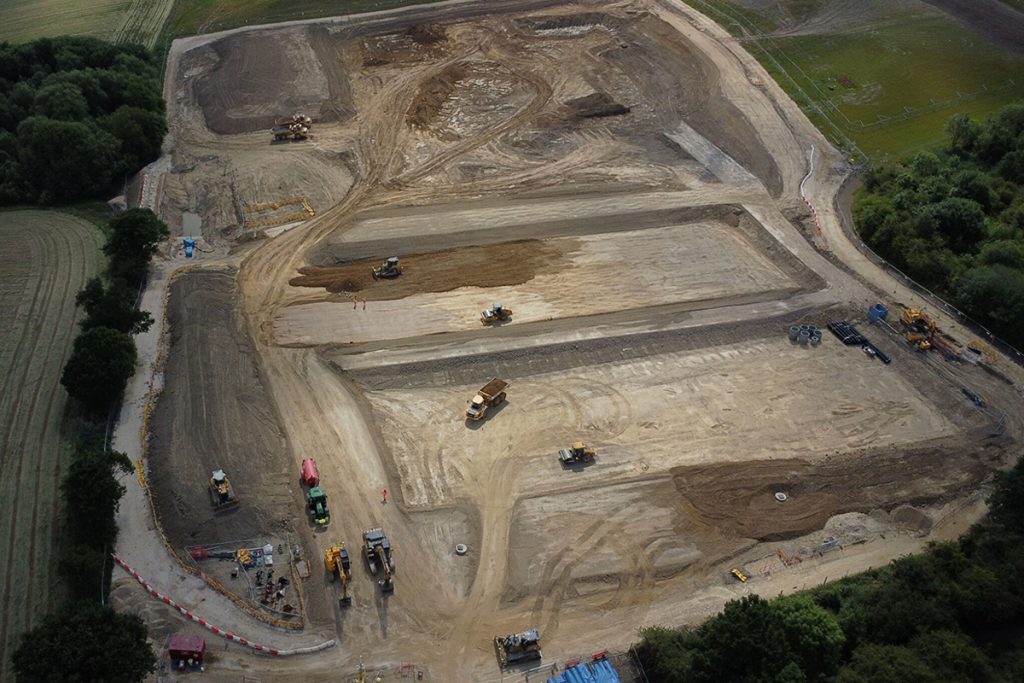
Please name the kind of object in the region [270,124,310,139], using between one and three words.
vehicle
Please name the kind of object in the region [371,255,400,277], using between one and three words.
work vehicle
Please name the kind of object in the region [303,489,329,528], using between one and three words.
work vehicle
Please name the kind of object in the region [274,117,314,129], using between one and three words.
vehicle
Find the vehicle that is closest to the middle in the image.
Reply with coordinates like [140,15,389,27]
[481,302,513,322]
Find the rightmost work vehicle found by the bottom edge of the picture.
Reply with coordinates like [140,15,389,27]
[486,631,542,677]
